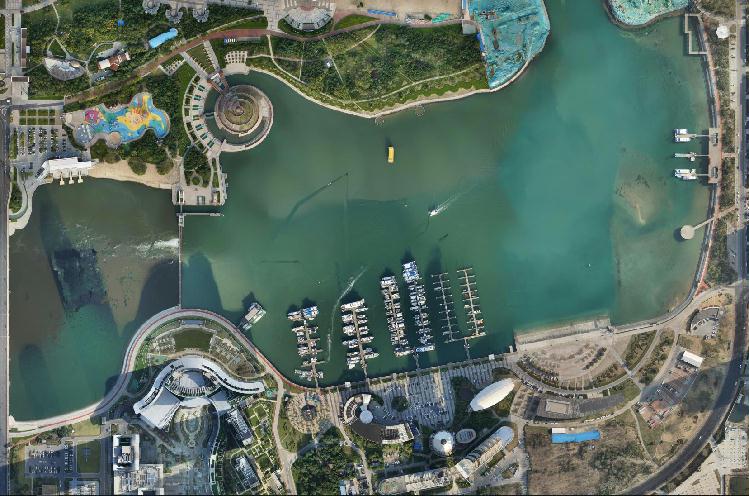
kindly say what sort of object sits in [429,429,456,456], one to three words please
building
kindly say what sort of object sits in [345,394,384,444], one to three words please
building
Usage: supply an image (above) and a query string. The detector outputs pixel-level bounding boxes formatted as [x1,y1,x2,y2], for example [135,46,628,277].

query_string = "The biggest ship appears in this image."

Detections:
[241,307,263,335]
